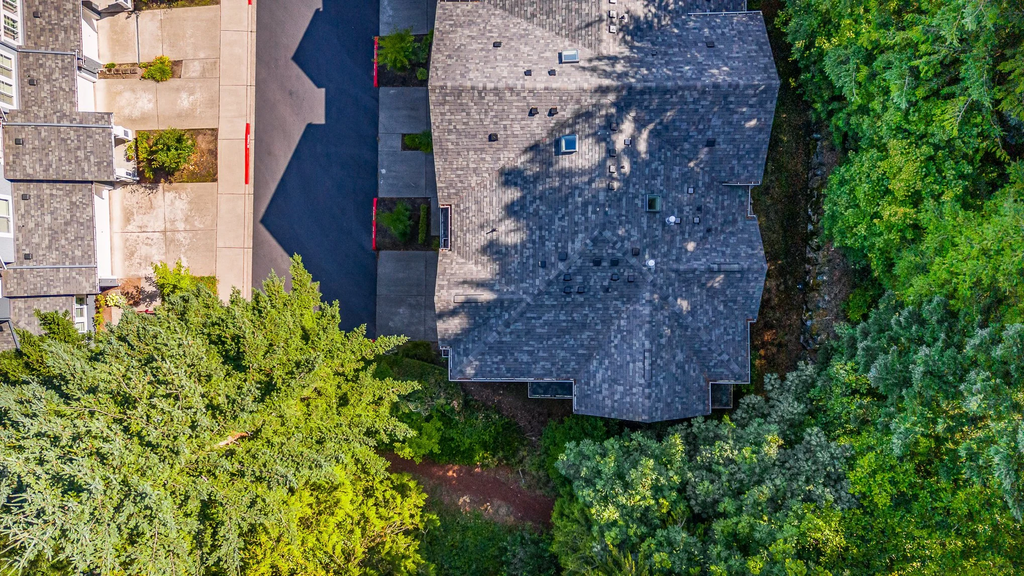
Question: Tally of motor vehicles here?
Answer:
zero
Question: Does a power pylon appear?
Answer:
No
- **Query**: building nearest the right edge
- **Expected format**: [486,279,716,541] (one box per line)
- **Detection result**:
[427,0,779,422]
